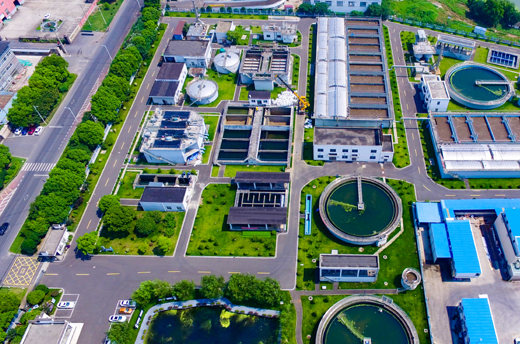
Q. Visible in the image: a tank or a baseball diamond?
tank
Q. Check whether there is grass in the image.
Yes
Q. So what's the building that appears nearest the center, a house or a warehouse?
house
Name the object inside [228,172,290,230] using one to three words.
house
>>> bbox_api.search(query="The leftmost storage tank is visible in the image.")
[187,72,221,109]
